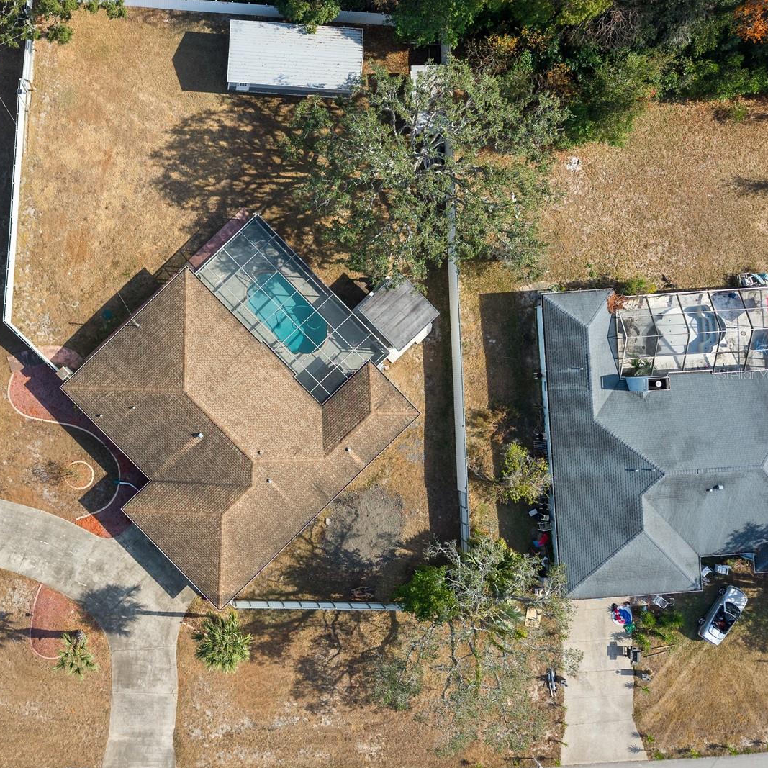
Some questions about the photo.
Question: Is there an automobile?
Yes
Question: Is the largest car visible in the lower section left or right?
right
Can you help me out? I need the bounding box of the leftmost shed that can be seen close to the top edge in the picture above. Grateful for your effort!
[227,19,363,101]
